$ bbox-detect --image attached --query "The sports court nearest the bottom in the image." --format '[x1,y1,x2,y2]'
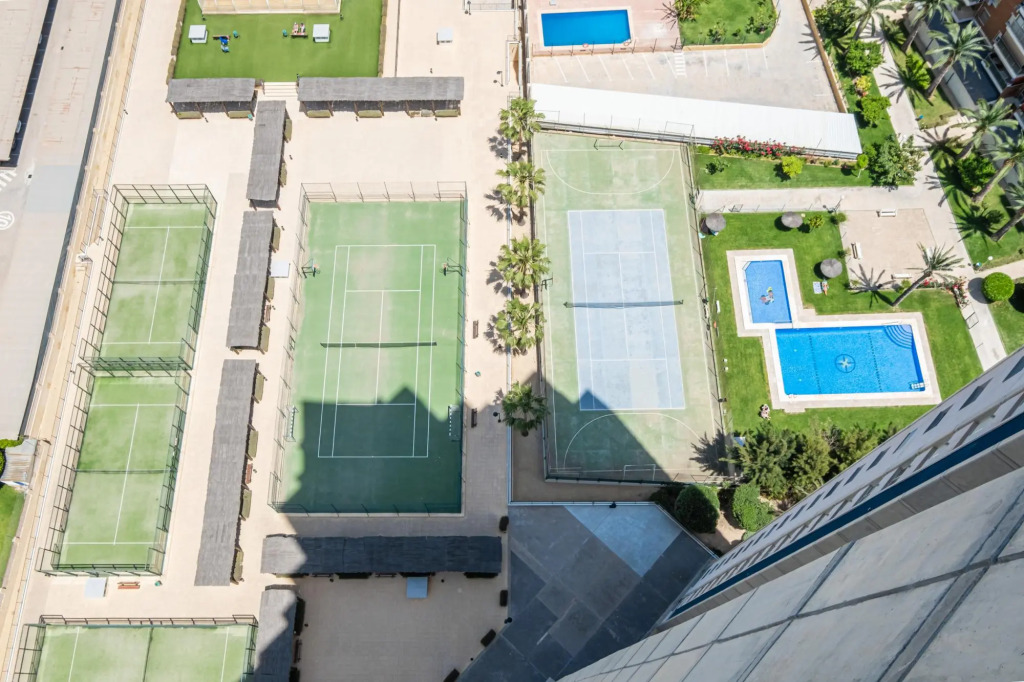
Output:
[32,625,260,682]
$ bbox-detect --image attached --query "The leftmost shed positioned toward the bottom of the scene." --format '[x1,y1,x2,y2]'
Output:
[2,441,47,484]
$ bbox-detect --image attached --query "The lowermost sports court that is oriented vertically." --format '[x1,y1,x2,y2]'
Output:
[56,376,193,577]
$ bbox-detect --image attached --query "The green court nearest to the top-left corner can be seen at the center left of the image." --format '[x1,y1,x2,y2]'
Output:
[93,201,217,372]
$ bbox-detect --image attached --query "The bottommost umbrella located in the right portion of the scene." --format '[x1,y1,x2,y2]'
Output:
[821,257,845,278]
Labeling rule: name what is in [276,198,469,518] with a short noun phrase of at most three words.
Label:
tennis court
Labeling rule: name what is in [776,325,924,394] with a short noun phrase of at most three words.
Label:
swimming pool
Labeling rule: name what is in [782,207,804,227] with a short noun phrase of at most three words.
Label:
umbrella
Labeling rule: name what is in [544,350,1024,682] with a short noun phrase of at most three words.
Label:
building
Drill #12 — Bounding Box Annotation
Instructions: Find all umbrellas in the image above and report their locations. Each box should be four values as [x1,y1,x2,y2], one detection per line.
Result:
[821,257,845,278]
[782,207,804,227]
[706,209,729,230]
